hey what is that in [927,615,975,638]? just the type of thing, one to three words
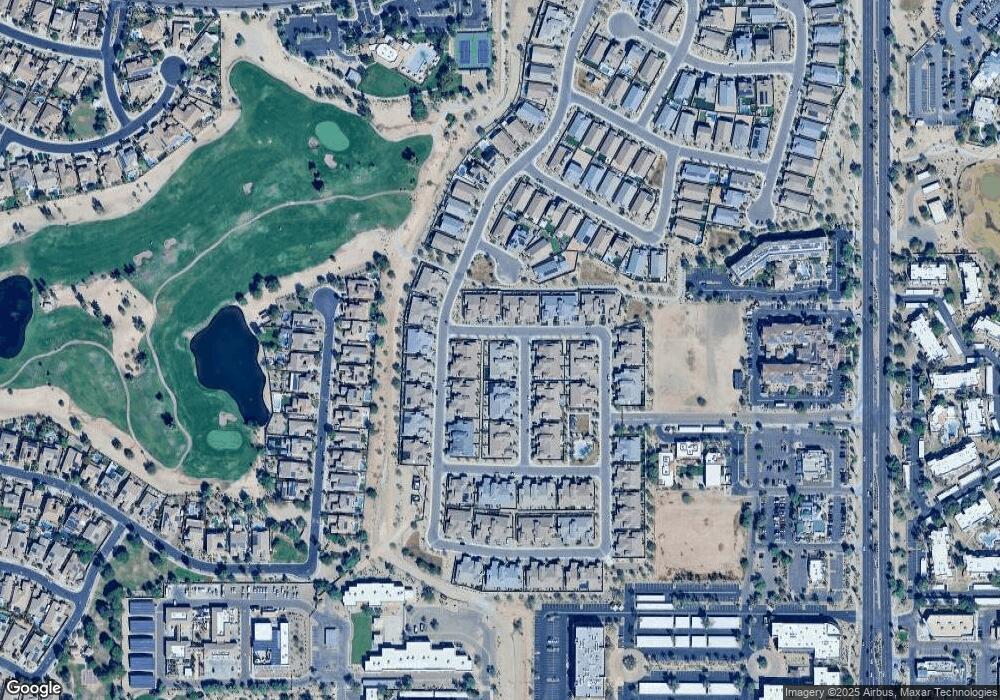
building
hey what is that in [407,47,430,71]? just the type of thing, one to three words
swimming pool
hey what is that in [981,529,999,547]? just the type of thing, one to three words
swimming pool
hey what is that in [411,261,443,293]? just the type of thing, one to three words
house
